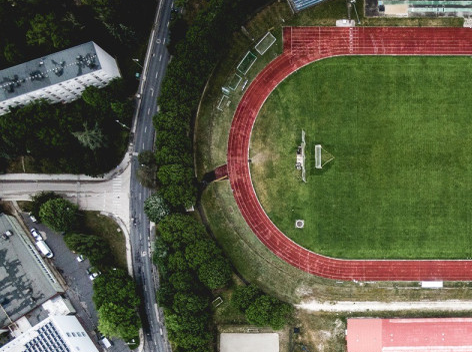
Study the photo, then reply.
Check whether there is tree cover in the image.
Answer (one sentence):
Yes, some tree cover is visible.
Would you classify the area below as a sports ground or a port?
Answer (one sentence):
This looks like a sports ground.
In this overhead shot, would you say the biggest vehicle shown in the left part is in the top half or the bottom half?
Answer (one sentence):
The bottom half of the photo is where the biggest vehicle shown in the left part is.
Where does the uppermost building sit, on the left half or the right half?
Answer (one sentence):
The uppermost building is on the left side of the image.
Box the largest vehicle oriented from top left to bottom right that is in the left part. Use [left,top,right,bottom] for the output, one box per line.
[32,239,53,260]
